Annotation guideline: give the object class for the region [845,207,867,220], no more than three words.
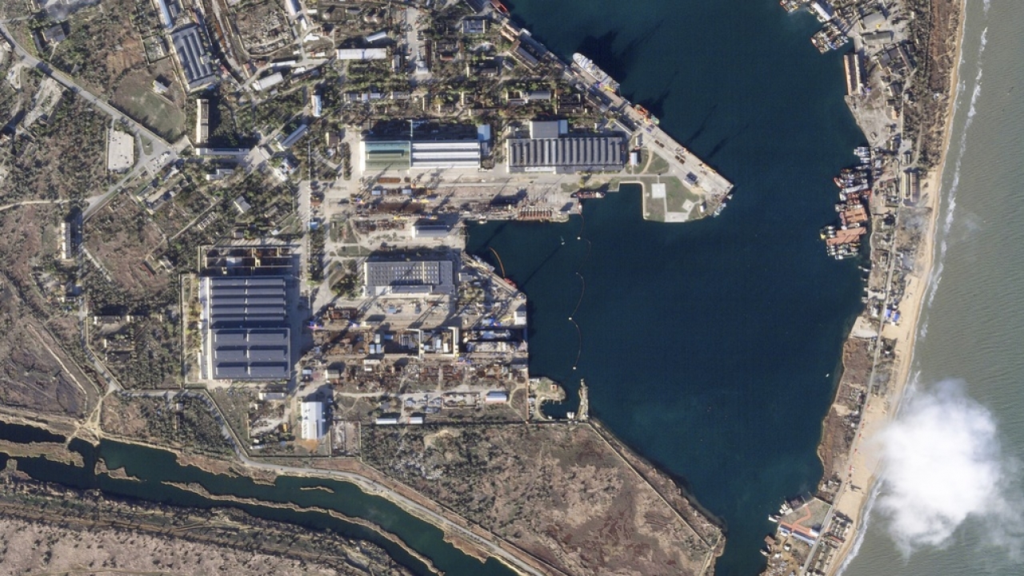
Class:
ship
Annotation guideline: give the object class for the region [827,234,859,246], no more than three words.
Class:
ship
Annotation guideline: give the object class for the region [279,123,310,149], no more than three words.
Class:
building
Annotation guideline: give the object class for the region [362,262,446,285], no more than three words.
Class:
building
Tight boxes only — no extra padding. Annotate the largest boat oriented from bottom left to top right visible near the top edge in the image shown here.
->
[813,22,838,40]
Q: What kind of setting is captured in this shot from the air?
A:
port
